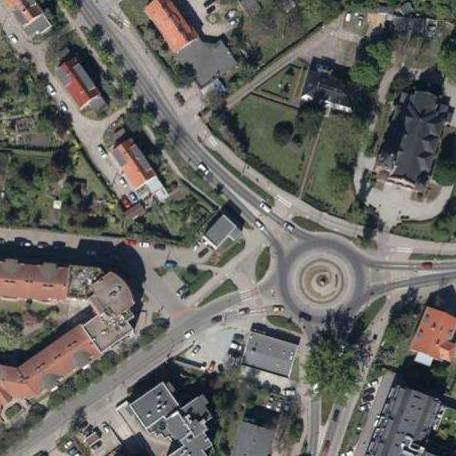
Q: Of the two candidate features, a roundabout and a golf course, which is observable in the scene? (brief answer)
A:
roundabout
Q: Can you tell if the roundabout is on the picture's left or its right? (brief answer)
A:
right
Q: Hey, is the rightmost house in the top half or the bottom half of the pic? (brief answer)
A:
bottom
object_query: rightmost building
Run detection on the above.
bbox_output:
[411,306,456,367]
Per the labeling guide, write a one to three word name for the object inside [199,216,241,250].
building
